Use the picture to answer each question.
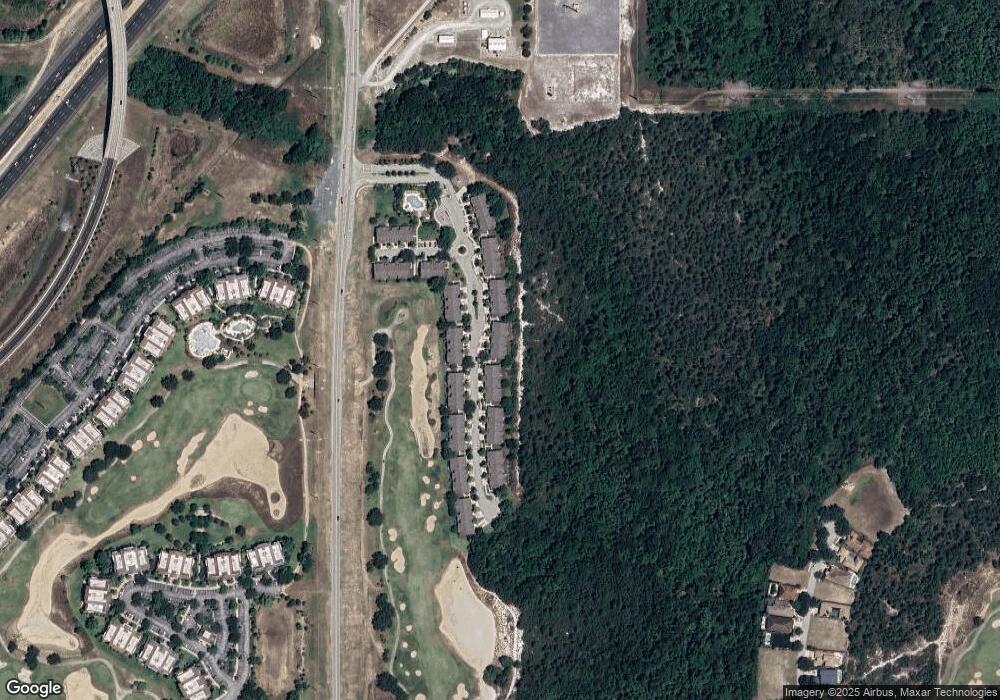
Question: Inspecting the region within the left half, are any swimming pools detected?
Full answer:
Yes, a swimming pool can be seen within the left half.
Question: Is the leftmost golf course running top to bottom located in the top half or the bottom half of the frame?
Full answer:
The bottom half of the photo is where the leftmost golf course running top to bottom is.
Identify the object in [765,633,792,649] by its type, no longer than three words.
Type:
house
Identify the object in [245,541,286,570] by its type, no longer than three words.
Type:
building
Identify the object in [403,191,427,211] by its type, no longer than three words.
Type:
swimming pool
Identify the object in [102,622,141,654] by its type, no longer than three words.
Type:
building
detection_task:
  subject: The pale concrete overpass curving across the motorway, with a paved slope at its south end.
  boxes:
[77,0,140,163]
